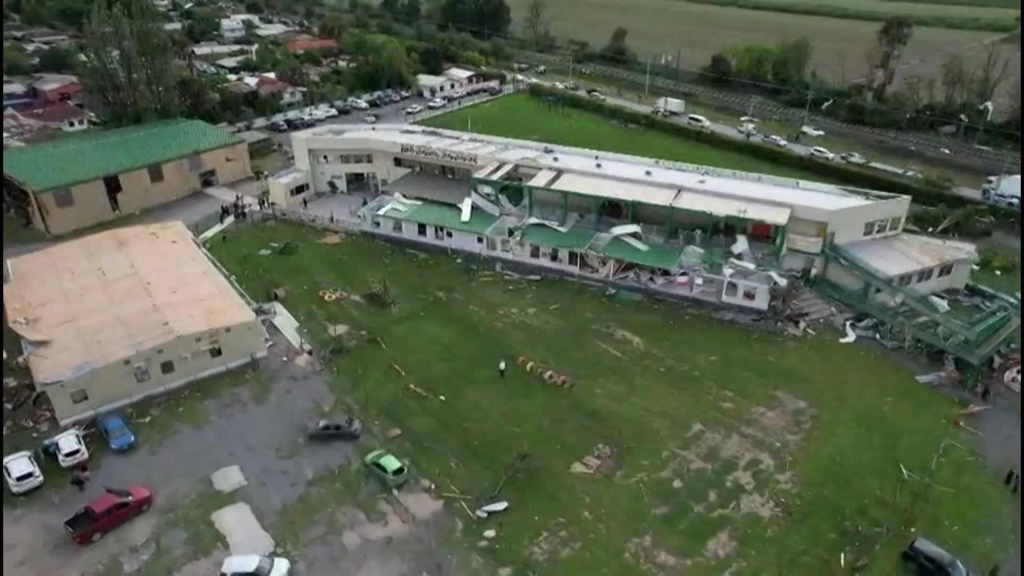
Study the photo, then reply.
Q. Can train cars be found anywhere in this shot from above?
No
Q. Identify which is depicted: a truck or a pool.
truck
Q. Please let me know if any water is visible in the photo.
No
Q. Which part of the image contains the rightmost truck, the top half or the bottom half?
top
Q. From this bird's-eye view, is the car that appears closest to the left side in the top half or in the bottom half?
bottom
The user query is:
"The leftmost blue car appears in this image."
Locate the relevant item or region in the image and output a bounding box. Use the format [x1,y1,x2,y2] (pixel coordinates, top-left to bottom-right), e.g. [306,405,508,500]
[91,412,137,454]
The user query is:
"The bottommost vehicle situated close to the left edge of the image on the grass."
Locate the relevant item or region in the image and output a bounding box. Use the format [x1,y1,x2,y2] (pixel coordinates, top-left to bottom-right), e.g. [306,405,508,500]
[0,452,45,498]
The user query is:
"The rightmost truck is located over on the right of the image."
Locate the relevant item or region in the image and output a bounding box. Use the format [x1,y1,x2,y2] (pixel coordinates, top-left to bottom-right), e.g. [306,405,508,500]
[976,176,1024,209]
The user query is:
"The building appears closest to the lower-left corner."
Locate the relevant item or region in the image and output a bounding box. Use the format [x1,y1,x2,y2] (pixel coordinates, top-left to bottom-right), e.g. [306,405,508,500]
[14,215,270,428]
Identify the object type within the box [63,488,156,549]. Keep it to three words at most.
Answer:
truck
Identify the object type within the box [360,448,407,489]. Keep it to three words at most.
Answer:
car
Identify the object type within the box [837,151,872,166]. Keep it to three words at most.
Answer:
vehicle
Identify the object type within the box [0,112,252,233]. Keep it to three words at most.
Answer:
building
